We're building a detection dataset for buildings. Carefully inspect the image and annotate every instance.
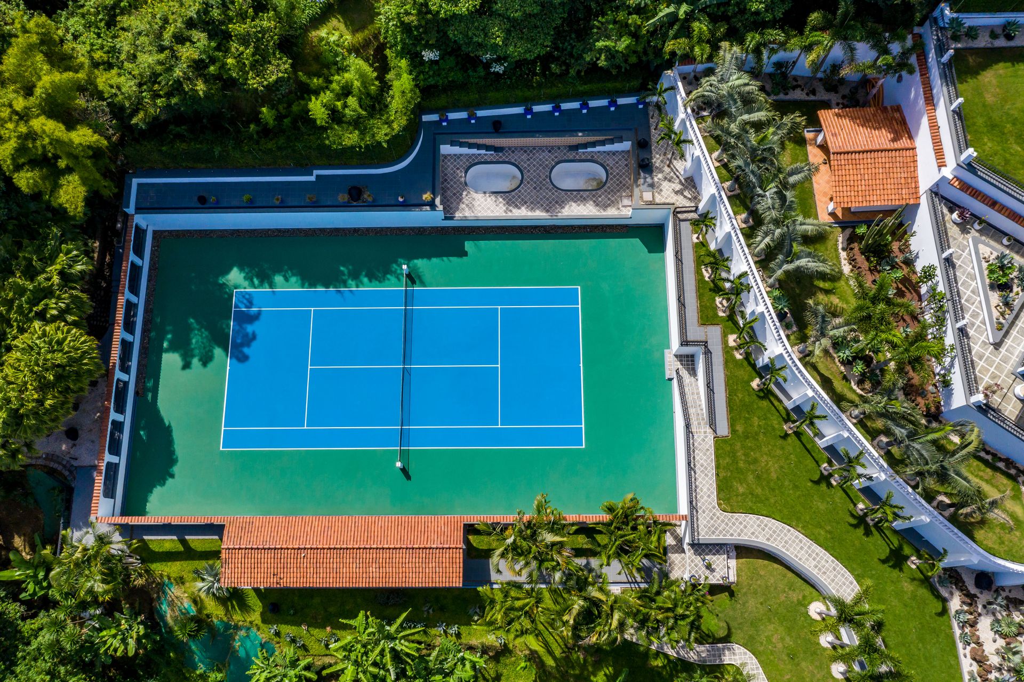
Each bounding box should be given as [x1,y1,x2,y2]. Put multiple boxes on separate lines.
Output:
[216,515,466,589]
[803,104,923,223]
